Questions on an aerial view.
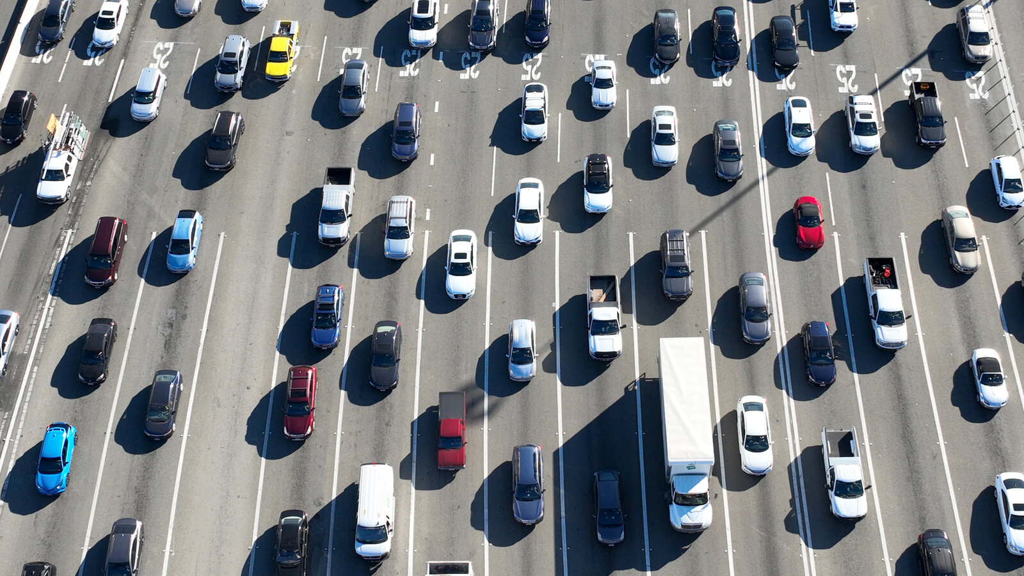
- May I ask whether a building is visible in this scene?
No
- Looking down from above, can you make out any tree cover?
No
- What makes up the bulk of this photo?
paved ground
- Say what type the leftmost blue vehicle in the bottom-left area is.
car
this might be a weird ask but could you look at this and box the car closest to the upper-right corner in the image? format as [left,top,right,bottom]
[954,8,994,64]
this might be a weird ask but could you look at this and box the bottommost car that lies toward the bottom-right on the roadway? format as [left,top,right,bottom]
[915,527,959,576]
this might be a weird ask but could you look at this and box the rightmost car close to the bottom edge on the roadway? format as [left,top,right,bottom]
[991,474,1024,556]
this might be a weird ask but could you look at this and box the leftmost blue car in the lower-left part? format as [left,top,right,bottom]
[33,424,81,496]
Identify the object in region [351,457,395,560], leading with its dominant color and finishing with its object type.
white van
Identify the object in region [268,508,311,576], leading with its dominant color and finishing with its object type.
black car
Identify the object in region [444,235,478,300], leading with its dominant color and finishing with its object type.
white car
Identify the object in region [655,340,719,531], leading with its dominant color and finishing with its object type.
white truck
